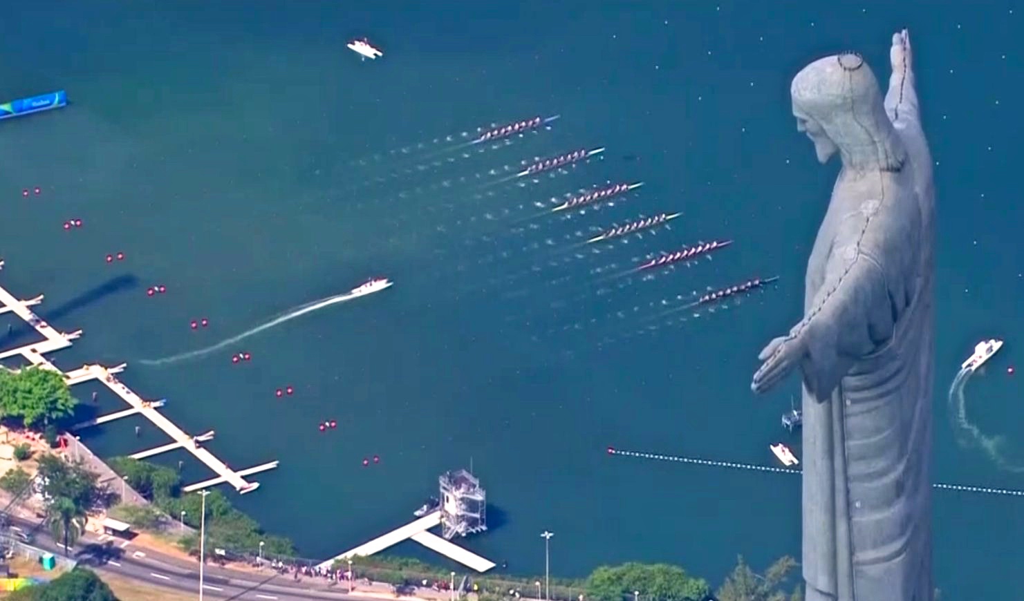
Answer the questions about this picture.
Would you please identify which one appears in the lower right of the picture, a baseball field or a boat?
boat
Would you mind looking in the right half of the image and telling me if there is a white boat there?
Yes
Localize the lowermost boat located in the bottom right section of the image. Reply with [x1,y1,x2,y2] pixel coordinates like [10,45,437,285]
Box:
[766,438,803,466]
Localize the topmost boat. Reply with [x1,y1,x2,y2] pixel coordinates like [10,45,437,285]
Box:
[344,38,385,60]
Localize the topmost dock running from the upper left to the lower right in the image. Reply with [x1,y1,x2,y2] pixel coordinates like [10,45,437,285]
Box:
[0,281,66,340]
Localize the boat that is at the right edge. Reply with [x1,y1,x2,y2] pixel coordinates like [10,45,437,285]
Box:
[957,335,1006,372]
